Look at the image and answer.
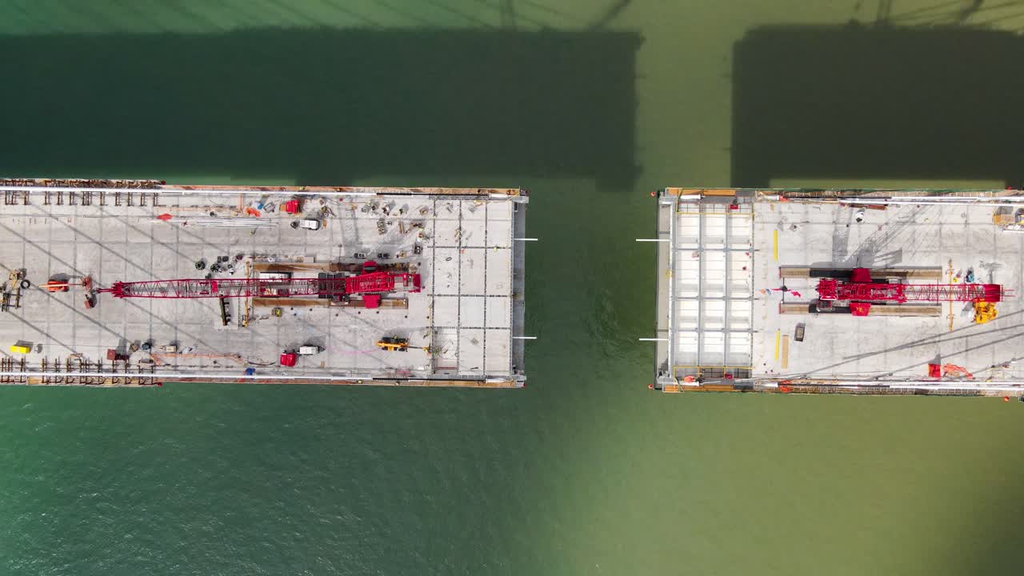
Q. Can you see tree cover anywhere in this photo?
No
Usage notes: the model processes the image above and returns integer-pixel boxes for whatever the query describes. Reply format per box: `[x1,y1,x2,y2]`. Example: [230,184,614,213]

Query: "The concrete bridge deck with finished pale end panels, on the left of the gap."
[0,181,538,388]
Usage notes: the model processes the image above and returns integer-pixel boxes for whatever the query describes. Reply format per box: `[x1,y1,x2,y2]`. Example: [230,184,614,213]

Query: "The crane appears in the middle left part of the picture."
[99,261,431,307]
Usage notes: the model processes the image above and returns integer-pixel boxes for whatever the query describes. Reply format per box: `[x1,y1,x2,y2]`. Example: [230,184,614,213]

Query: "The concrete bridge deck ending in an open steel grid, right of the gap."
[636,187,1024,399]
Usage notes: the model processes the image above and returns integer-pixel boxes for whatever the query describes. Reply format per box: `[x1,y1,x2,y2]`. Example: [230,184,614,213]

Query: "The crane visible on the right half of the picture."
[750,269,1015,315]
